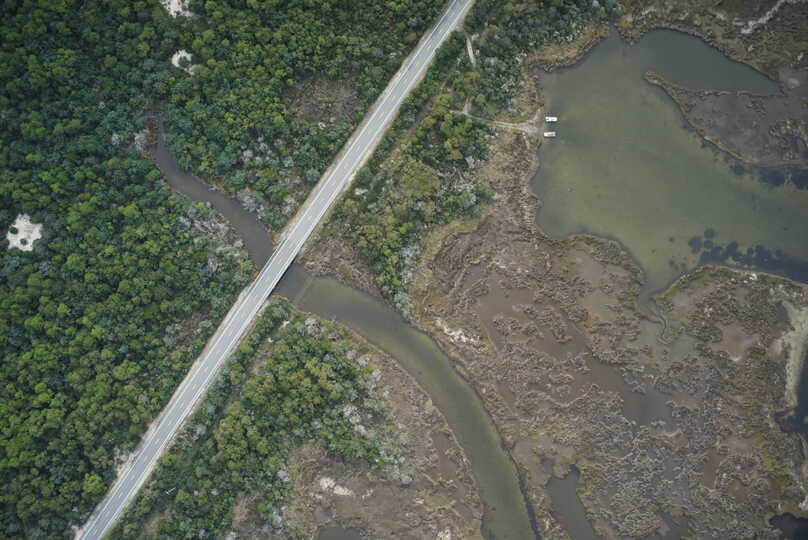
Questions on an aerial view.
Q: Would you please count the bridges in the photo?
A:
one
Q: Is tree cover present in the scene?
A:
Yes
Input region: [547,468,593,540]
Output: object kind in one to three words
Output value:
pond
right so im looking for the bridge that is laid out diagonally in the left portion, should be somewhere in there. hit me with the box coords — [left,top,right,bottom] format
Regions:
[241,226,308,309]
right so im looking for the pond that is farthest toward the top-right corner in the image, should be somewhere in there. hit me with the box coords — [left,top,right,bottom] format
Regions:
[529,25,808,342]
